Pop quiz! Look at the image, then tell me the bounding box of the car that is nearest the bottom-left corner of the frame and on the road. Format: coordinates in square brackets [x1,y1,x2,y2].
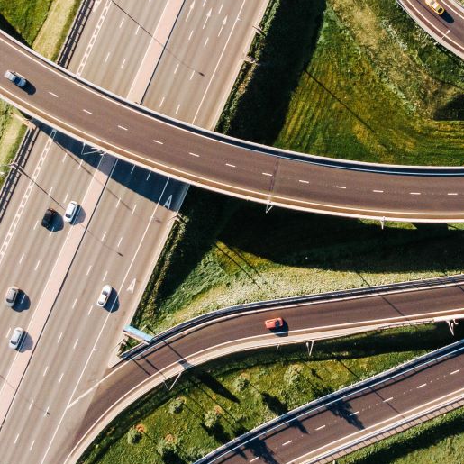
[10,327,24,349]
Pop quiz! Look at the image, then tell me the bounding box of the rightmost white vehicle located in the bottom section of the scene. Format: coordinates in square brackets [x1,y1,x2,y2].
[97,284,113,307]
